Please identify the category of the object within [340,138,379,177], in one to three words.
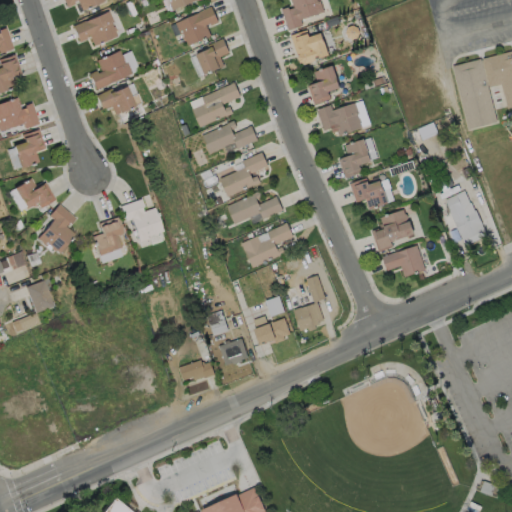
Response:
house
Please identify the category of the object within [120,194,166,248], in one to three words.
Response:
building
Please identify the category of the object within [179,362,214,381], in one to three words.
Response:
house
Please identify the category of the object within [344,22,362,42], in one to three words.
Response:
gazebo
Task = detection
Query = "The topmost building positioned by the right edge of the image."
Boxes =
[454,52,512,128]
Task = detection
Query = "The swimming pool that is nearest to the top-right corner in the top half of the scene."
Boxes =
[352,54,376,68]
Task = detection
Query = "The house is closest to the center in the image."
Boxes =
[242,224,293,268]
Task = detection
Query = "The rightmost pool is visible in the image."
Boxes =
[398,172,416,198]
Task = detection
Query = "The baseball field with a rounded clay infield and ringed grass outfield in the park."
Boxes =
[282,378,460,512]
